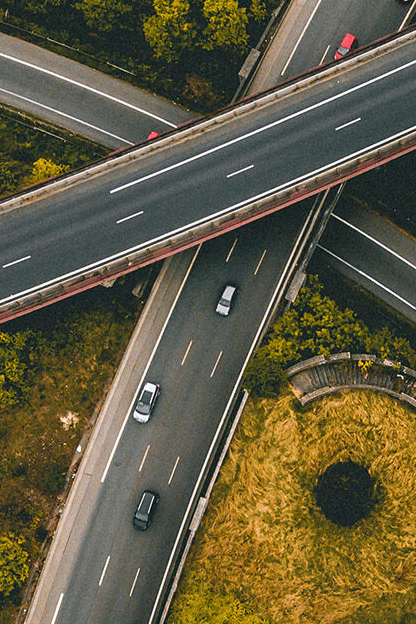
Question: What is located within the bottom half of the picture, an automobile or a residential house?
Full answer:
The one visible within the bottom half of the picture is an automobile.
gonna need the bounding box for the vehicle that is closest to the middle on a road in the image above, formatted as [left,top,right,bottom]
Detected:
[215,283,239,317]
